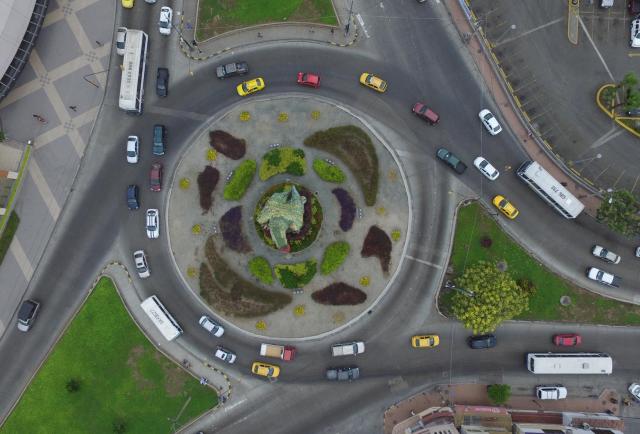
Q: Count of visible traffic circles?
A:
1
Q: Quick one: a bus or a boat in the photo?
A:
bus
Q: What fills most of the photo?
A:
paved ground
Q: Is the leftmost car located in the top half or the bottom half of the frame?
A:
bottom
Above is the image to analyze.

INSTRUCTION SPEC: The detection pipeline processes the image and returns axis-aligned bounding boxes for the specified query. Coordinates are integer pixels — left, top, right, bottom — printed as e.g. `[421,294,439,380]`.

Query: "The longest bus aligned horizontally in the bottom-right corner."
[522,351,611,374]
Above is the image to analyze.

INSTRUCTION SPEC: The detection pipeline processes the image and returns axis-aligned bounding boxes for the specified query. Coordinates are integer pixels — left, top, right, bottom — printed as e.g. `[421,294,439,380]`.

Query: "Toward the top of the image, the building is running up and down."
[0,0,51,107]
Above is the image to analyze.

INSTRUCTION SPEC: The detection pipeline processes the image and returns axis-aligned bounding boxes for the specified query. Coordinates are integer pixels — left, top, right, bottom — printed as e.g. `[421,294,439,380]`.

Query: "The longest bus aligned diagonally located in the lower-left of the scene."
[142,295,183,342]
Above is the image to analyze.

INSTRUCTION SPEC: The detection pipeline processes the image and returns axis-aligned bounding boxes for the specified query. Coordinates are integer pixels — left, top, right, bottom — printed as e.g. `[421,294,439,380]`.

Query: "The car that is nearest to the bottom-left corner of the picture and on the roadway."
[18,300,39,330]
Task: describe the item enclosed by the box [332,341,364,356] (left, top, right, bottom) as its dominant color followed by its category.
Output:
white vehicle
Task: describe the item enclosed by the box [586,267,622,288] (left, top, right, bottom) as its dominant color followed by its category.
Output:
white truck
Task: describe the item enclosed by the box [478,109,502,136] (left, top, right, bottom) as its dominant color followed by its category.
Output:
white car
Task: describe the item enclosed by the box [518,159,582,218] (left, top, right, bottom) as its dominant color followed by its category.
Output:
white bus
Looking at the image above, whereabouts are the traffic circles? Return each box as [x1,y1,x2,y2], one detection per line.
[163,93,411,341]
